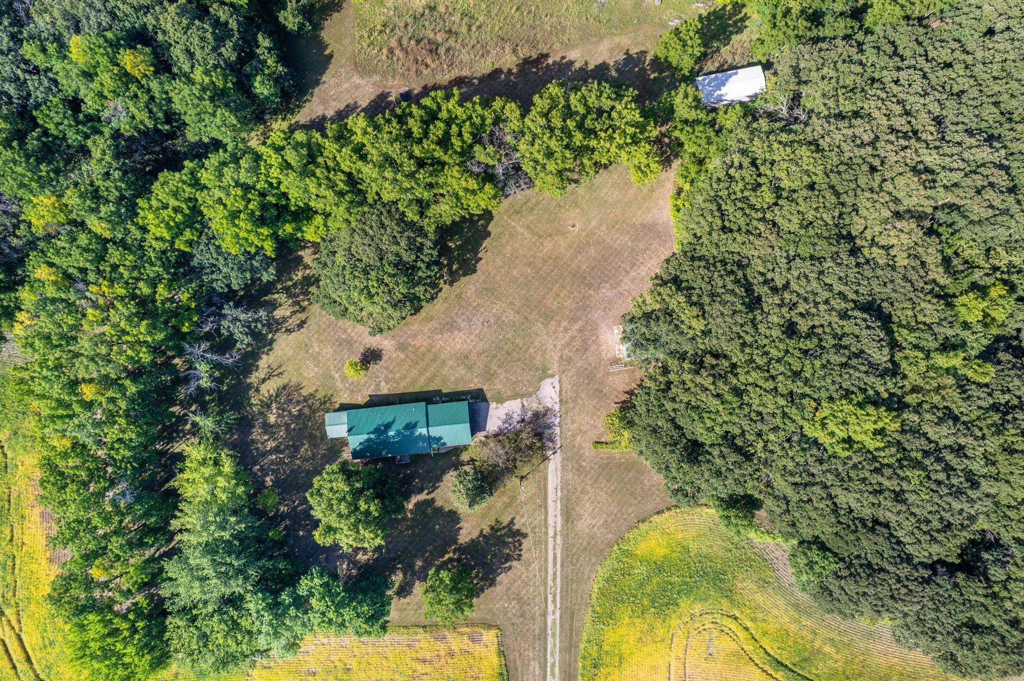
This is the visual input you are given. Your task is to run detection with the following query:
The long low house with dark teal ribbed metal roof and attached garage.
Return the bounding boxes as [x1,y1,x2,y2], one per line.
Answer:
[325,400,472,461]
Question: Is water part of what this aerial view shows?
No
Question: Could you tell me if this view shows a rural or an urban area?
rural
